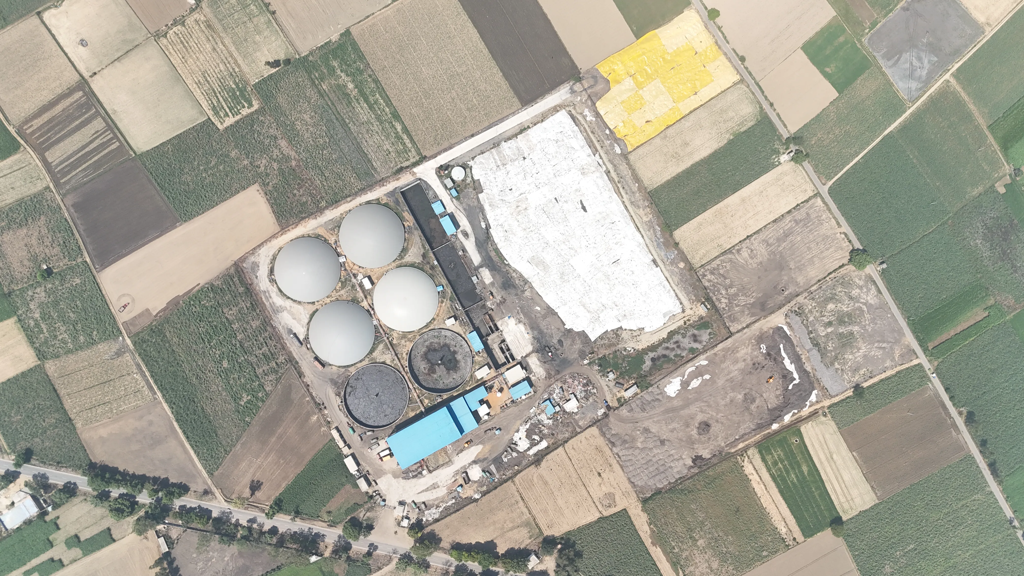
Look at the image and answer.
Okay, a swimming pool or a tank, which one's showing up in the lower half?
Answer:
tank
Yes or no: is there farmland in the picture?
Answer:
Yes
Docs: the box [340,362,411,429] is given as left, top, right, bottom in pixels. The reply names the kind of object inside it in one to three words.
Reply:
storage tank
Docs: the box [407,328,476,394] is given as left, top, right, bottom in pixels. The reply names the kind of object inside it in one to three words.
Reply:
storage tank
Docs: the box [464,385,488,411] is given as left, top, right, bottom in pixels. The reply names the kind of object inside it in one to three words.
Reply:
shed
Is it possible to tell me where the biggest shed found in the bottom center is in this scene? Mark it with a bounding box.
[387,404,462,469]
